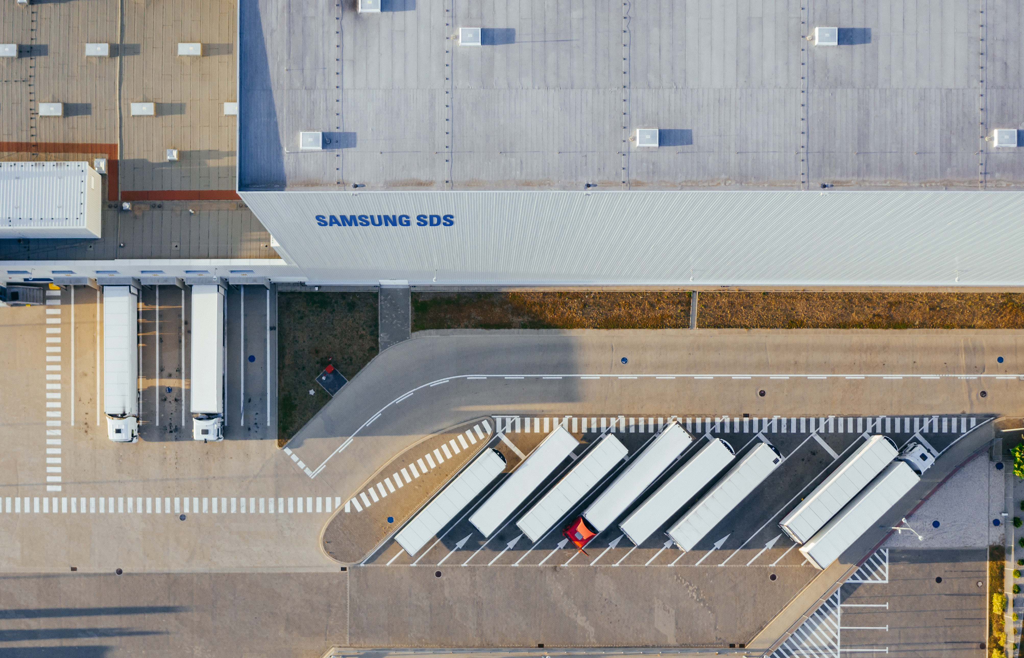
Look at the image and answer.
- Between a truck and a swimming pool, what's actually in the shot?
truck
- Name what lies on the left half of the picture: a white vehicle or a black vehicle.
white vehicle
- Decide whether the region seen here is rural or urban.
urban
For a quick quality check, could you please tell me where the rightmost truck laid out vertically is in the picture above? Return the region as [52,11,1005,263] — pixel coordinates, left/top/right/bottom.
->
[191,285,224,444]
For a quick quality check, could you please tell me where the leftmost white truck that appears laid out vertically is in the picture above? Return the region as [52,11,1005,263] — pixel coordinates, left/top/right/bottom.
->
[104,285,139,446]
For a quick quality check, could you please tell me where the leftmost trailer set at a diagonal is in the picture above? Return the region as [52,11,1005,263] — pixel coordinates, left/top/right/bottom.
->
[394,448,506,556]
